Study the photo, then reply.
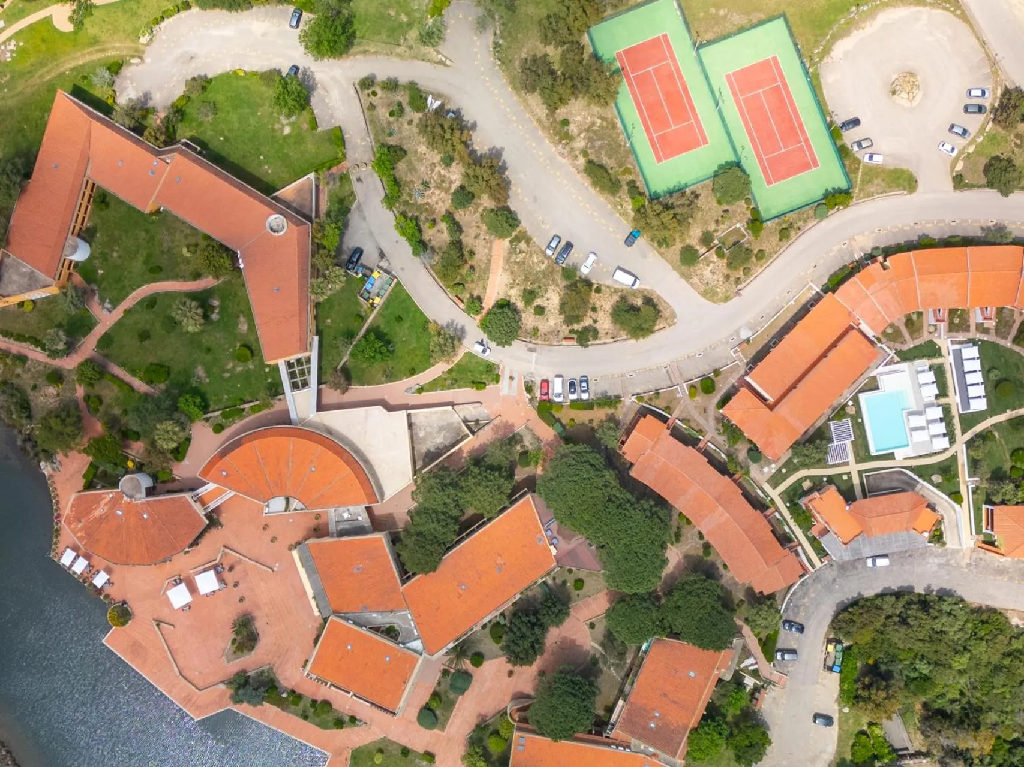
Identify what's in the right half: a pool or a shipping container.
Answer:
pool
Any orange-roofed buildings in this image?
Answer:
Yes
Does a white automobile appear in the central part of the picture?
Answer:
Yes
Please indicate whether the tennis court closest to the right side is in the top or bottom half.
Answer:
top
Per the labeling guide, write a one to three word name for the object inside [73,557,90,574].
umbrella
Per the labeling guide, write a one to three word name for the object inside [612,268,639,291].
vehicle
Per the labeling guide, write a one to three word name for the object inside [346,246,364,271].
car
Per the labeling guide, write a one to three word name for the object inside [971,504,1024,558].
house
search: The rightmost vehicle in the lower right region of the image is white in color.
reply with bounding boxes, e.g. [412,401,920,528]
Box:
[865,556,889,568]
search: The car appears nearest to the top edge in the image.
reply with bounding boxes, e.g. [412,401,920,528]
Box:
[289,8,303,30]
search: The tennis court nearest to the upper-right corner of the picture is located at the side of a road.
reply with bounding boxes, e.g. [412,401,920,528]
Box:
[701,10,856,221]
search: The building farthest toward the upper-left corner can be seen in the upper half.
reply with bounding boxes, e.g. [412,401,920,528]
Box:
[0,89,316,364]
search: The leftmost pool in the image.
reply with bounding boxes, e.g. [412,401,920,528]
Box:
[858,358,946,460]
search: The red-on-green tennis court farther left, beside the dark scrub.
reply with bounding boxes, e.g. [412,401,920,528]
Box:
[589,0,743,198]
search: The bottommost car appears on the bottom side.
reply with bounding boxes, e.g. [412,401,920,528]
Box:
[811,712,833,727]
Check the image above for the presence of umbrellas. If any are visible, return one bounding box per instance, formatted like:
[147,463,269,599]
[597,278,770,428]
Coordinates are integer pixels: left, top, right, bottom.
[195,570,219,595]
[93,571,110,588]
[73,557,90,574]
[167,583,192,609]
[61,549,78,566]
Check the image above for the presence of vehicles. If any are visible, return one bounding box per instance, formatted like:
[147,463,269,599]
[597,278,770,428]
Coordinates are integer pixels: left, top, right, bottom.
[625,229,640,249]
[580,251,598,274]
[850,137,873,152]
[838,116,861,133]
[289,8,303,30]
[865,556,889,568]
[579,377,589,399]
[863,153,883,164]
[286,64,300,79]
[545,234,562,256]
[556,240,574,265]
[568,379,577,400]
[612,268,639,291]
[553,376,564,402]
[775,649,797,661]
[346,246,364,271]
[445,110,456,119]
[811,712,833,727]
[962,103,985,115]
[936,140,958,157]
[474,340,492,357]
[947,123,970,140]
[781,619,804,634]
[540,381,549,400]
